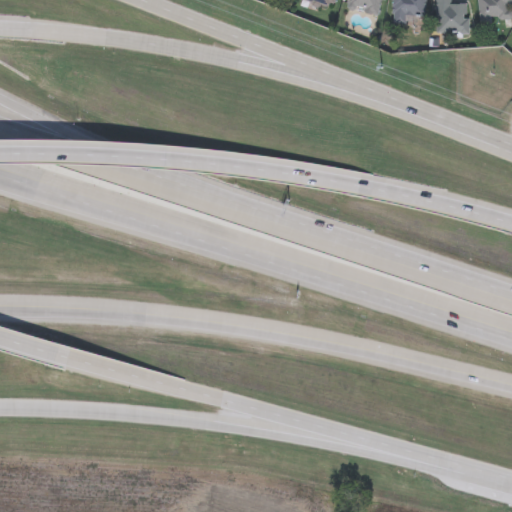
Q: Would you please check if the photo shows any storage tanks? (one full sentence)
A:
No, there's no storage tank here.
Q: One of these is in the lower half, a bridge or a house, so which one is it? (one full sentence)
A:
Looking in the lower half, you will find a bridge.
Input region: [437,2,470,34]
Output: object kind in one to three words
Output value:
house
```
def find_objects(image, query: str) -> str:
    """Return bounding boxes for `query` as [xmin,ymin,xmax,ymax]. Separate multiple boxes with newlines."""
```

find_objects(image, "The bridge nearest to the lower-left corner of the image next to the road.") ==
[0,326,66,370]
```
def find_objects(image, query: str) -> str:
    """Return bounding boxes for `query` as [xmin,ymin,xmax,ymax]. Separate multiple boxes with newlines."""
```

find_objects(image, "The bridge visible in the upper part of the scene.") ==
[0,139,208,172]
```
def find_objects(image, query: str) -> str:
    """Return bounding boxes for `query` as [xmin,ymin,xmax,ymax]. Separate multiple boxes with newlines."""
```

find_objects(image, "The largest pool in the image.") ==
[350,14,372,28]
